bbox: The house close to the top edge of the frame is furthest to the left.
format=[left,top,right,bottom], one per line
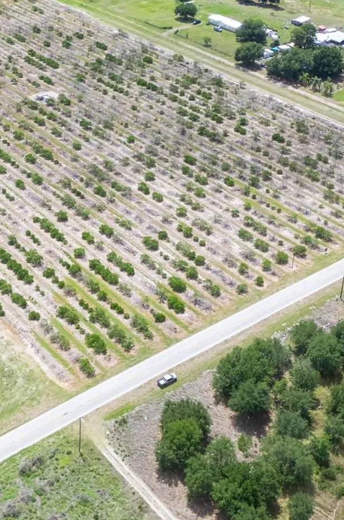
[209,16,241,33]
